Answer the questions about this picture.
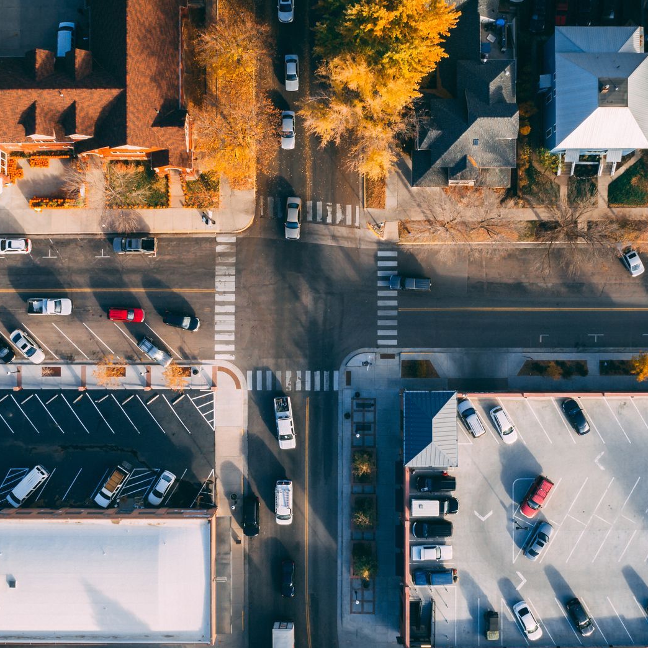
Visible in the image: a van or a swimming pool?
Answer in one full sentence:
This aerial view contains a van.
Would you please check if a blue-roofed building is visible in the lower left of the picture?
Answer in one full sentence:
No, I can find no blue-roofed building in the lower left of the picture.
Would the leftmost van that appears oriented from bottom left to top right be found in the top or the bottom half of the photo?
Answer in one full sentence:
The leftmost van that appears oriented from bottom left to top right sits in the bottom half of the picture.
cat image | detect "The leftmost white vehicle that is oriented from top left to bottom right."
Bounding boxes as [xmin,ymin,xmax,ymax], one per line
[5,323,49,368]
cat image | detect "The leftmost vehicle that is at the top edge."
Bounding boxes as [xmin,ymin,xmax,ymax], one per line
[56,21,76,55]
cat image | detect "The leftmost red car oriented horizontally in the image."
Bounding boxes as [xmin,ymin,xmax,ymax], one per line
[107,305,145,323]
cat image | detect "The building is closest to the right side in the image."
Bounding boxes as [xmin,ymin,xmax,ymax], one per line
[537,27,648,176]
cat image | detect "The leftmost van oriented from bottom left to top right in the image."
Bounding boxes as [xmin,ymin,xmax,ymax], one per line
[8,461,51,507]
